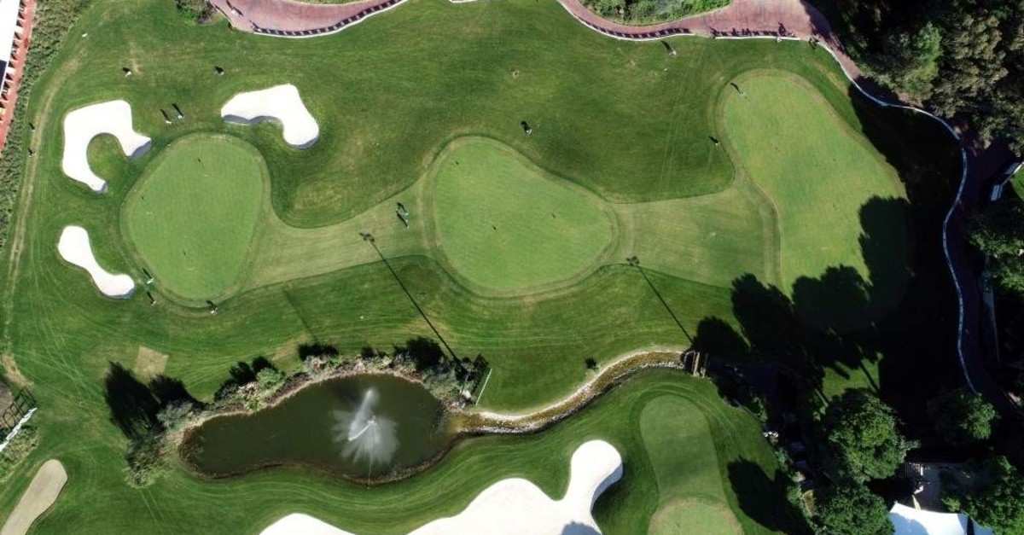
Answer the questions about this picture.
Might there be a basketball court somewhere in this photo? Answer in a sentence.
No, there isn't any basketball court down there.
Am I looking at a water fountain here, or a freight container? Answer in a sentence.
The one in the frame is a water fountain.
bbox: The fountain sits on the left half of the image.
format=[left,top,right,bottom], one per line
[334,378,426,488]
